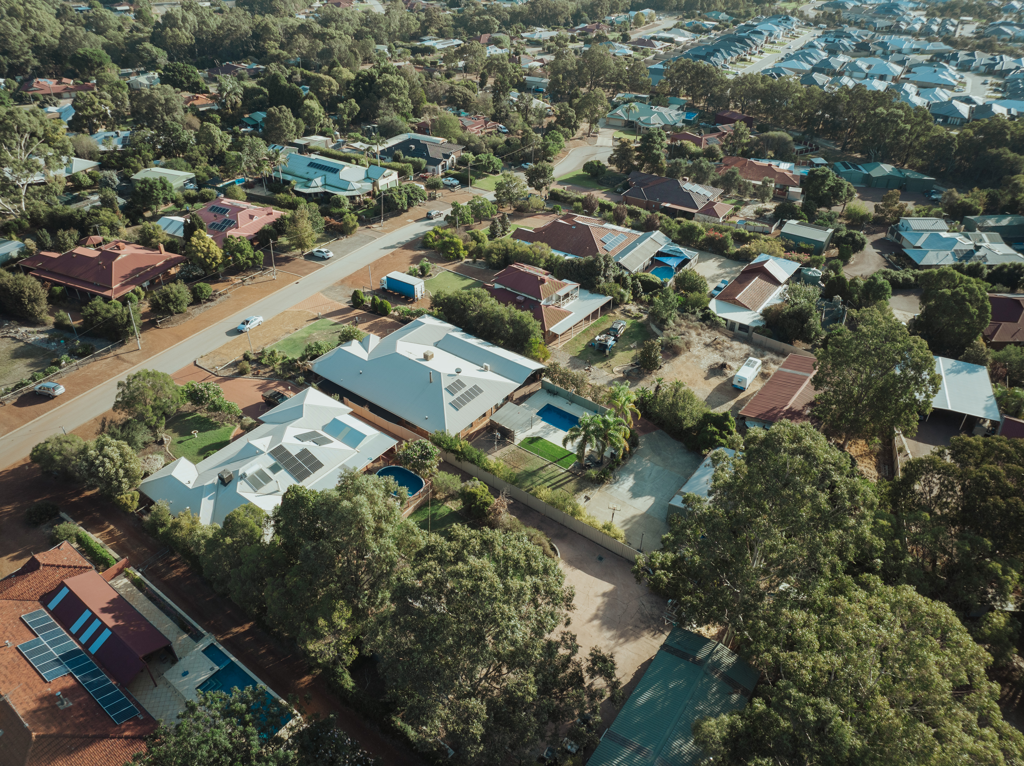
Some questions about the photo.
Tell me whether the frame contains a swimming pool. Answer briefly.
Yes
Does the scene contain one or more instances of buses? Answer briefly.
Yes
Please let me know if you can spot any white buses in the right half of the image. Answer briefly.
Yes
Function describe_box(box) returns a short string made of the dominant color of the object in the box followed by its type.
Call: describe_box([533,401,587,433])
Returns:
blue swimming pool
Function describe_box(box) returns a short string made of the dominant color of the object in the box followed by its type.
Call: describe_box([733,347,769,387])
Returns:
white bus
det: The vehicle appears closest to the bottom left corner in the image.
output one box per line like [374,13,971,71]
[29,379,65,397]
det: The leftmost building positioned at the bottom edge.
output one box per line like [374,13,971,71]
[0,540,179,764]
